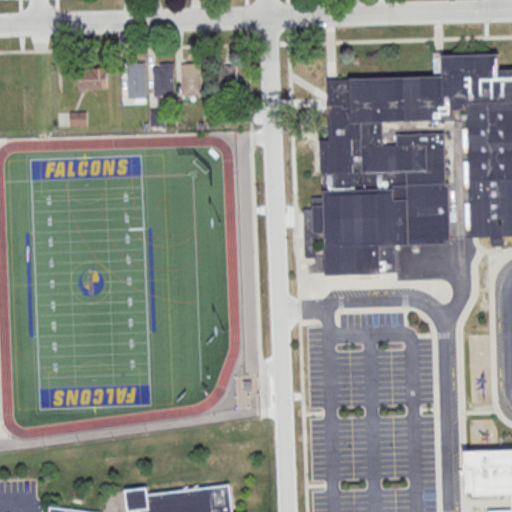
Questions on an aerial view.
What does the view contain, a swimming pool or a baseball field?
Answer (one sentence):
Looking from above, you can make out a baseball field.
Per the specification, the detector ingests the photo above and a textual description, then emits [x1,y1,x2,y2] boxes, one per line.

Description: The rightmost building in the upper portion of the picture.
[304,52,512,275]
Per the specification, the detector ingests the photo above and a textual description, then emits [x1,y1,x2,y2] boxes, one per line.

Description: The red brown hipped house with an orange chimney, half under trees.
[78,68,107,90]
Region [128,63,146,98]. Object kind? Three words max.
house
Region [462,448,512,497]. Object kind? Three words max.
building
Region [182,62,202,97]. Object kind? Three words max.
house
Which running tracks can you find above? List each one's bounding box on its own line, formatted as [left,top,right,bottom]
[0,136,240,439]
